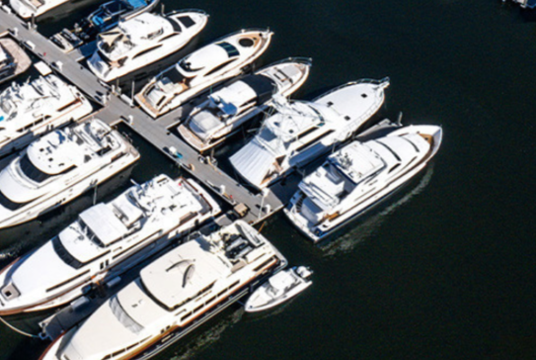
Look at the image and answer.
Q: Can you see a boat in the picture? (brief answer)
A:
Yes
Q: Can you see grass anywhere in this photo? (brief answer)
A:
No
